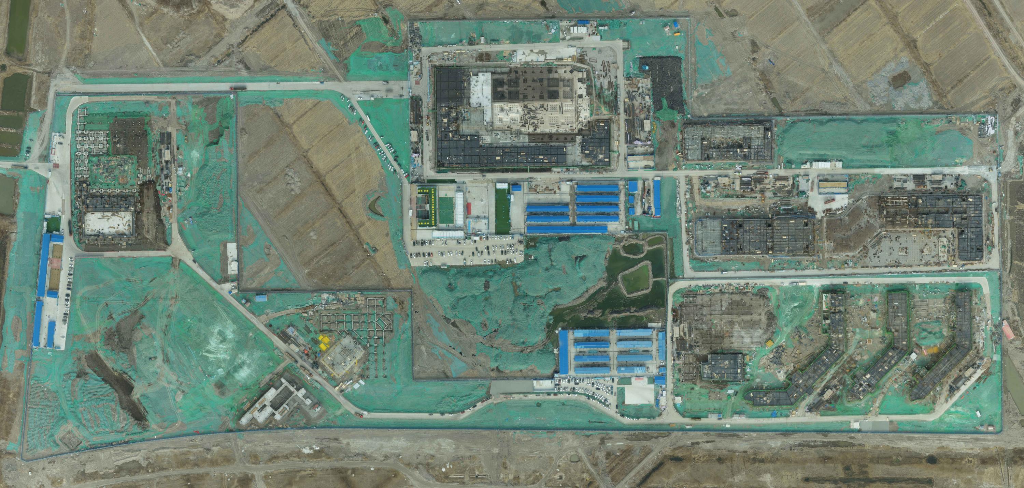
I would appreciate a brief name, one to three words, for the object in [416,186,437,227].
building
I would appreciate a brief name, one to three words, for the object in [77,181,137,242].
building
